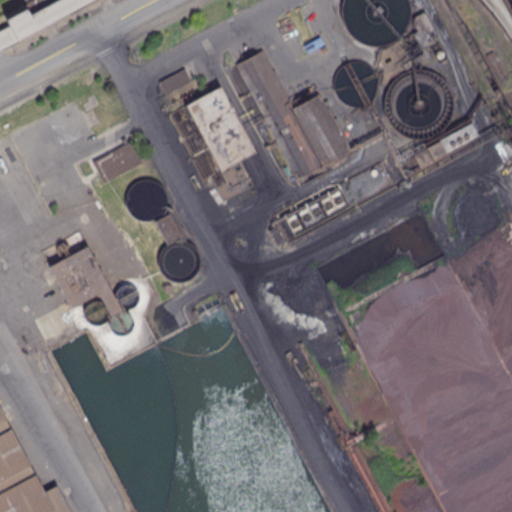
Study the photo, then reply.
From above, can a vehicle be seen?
Yes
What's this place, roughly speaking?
industrial area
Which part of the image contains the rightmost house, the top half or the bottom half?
top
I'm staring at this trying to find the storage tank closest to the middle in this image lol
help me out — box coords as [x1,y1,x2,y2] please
[160,243,198,282]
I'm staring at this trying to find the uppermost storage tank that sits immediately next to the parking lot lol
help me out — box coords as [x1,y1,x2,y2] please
[126,180,168,221]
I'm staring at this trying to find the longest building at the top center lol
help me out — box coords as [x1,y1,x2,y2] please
[236,48,321,179]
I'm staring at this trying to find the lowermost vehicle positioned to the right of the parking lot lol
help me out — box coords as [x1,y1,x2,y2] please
[229,292,245,312]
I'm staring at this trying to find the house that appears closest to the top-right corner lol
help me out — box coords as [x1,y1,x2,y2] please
[442,126,479,154]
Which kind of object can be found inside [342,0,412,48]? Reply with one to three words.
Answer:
storage tank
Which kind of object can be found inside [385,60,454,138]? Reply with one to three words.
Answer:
storage tank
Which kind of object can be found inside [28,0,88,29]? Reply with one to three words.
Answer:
building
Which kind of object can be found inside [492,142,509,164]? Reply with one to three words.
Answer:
vehicle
